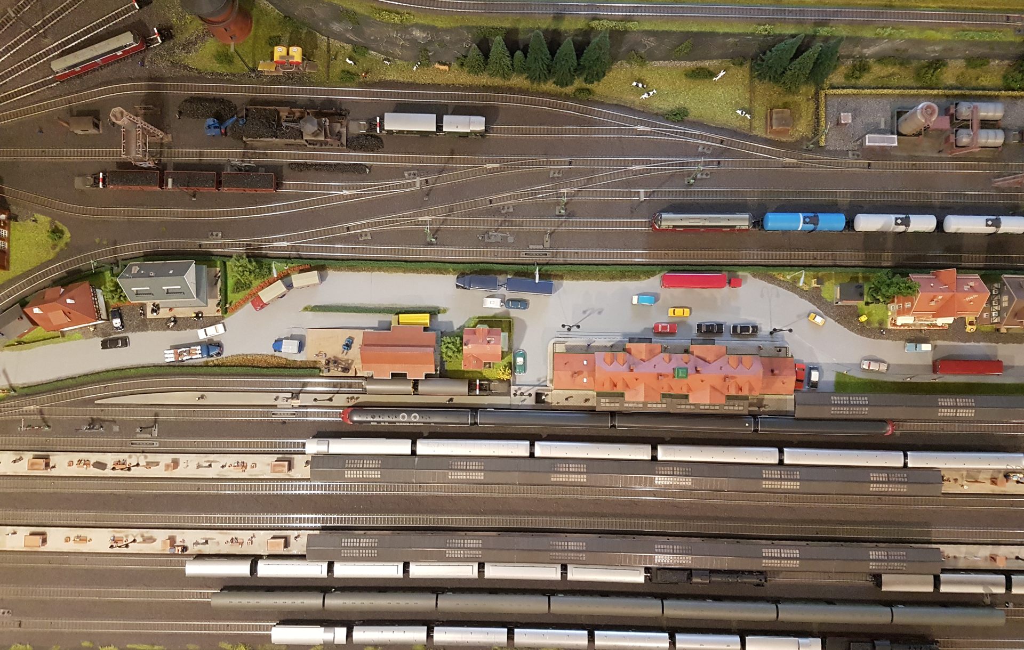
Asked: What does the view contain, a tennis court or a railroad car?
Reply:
railroad car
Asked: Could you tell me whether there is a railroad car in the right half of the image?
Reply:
Yes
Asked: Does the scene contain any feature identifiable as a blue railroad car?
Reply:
Yes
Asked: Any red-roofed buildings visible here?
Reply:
Yes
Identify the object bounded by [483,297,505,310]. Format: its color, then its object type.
white vehicle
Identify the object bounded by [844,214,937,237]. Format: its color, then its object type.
white rail car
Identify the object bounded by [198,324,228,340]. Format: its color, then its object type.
white car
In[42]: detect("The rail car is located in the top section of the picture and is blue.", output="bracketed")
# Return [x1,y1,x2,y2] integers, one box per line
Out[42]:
[754,212,845,235]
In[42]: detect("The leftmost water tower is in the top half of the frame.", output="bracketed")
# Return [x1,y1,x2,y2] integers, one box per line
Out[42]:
[179,0,253,48]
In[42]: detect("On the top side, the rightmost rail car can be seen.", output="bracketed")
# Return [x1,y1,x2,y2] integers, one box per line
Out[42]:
[934,216,1024,238]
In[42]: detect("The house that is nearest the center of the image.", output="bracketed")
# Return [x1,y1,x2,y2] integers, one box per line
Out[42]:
[461,326,510,373]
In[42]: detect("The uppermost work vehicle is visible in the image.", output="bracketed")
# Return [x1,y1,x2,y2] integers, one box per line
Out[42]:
[204,115,241,136]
